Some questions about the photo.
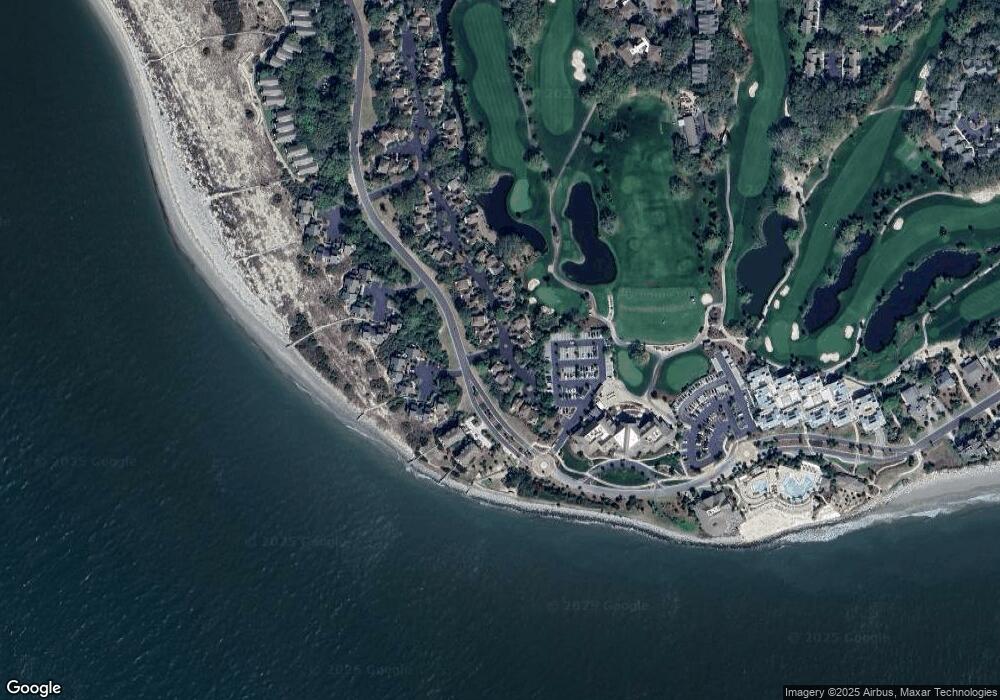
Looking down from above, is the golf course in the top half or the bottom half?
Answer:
top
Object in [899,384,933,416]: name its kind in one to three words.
house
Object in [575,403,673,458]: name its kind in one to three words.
building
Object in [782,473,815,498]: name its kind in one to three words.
swimming pool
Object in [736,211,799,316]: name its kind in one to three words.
pond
